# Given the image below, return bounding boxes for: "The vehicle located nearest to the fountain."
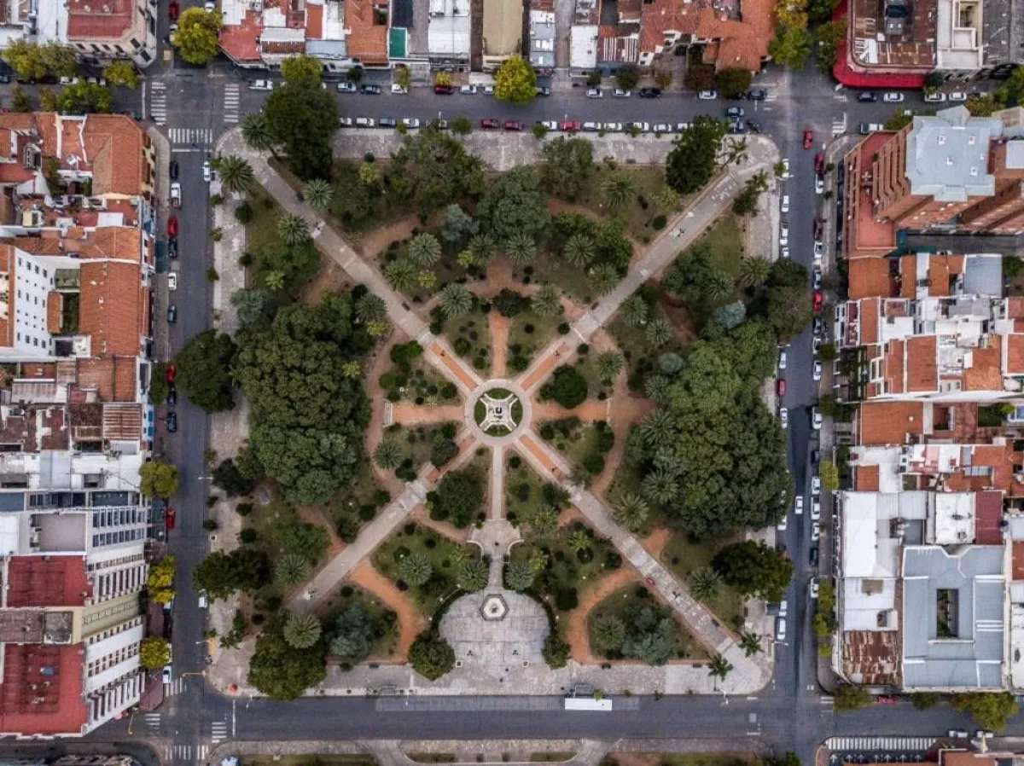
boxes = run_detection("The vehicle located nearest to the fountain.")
[564,694,613,708]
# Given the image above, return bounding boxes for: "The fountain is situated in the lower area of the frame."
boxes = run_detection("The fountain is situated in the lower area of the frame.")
[480,596,507,619]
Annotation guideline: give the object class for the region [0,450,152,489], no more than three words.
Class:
house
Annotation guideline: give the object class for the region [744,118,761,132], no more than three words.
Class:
car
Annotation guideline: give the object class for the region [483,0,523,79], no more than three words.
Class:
building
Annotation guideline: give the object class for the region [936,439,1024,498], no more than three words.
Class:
house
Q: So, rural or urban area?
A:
urban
